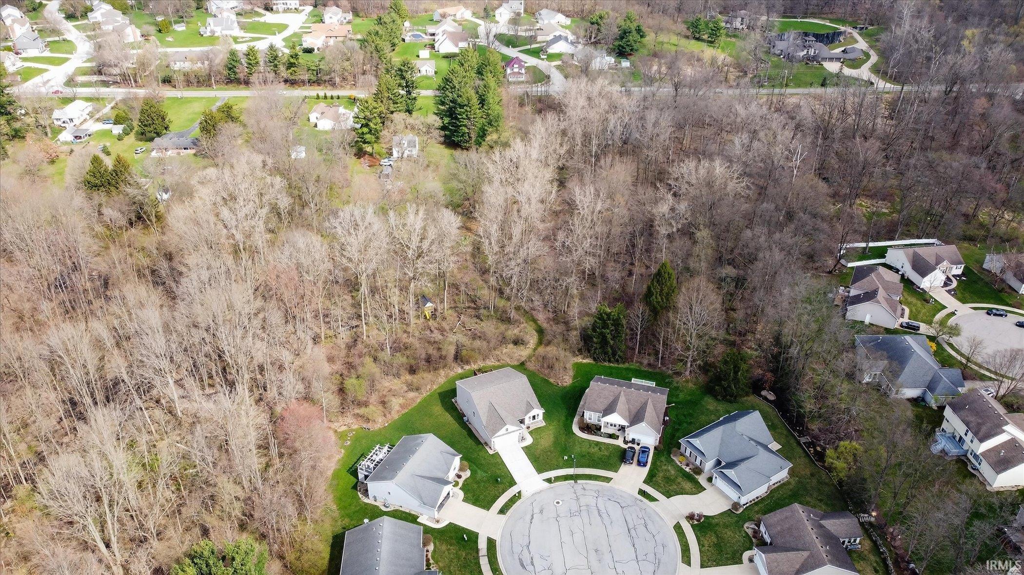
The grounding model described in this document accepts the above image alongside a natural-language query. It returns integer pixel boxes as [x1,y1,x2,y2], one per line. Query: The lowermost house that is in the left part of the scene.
[340,525,423,575]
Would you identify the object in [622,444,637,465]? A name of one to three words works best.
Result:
car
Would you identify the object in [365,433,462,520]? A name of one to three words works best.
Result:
house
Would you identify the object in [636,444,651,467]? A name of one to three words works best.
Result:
car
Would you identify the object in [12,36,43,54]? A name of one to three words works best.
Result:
house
